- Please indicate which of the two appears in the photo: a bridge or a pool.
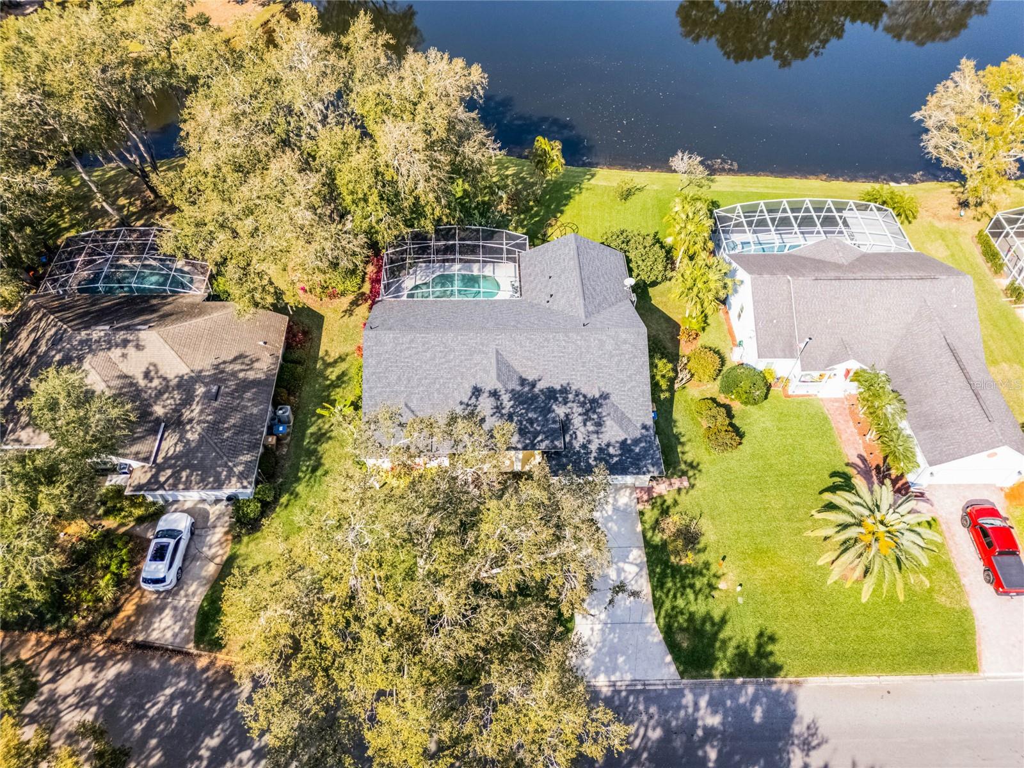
pool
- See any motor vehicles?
Yes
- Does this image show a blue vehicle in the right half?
No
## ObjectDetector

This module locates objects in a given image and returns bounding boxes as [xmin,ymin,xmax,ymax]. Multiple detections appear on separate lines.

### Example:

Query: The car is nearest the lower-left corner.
[137,506,199,588]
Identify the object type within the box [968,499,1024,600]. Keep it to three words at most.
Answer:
truck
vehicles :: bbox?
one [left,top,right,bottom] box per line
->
[137,506,199,588]
[968,499,1024,600]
